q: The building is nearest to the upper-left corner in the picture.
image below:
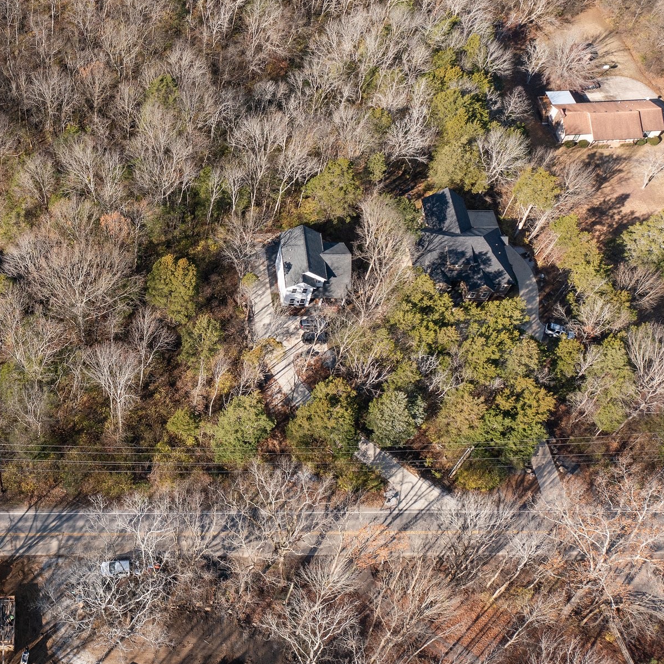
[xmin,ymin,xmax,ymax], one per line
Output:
[273,224,353,309]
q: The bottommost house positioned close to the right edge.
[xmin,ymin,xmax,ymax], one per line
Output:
[524,93,664,152]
